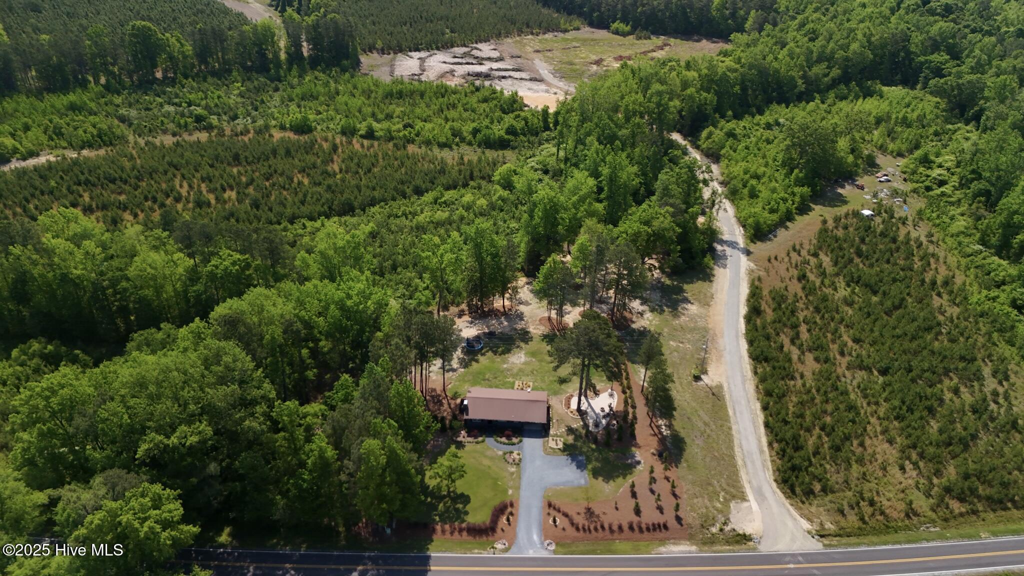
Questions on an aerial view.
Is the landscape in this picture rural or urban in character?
rural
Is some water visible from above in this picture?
No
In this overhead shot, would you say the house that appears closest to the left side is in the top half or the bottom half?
bottom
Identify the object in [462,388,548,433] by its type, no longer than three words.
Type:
house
